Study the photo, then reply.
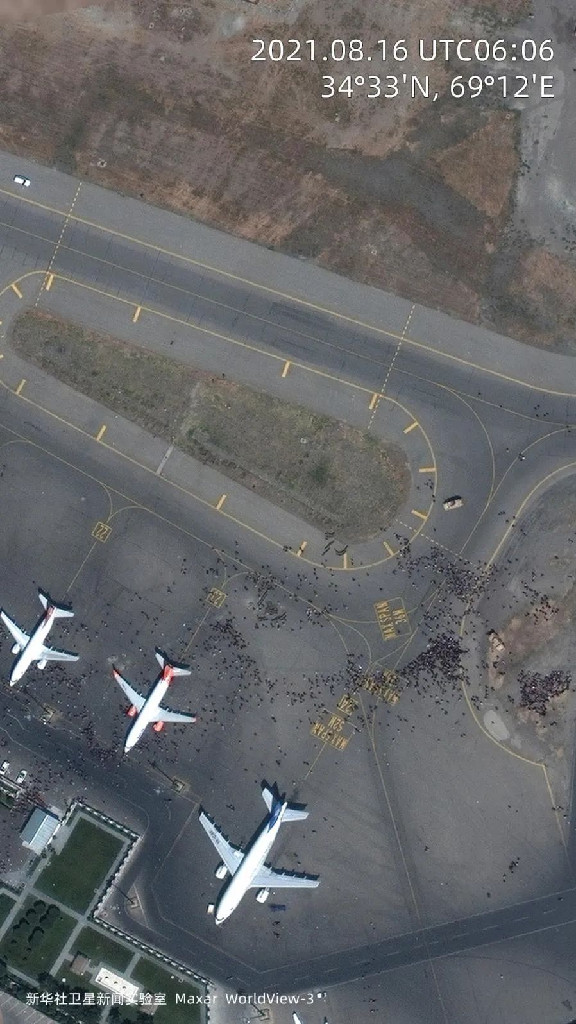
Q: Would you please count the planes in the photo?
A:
3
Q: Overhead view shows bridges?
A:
No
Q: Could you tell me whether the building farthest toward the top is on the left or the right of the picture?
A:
left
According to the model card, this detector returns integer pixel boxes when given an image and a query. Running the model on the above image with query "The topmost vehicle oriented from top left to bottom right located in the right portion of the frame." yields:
[487,630,509,655]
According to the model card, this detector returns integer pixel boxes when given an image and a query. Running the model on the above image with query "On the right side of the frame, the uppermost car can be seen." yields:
[444,496,463,509]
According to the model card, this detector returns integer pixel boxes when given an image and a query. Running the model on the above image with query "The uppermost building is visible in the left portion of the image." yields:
[20,807,63,854]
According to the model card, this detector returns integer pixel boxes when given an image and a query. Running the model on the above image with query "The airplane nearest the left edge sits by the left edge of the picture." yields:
[2,594,77,686]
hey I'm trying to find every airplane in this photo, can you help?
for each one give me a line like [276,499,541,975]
[2,594,77,686]
[199,787,319,922]
[113,653,196,752]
